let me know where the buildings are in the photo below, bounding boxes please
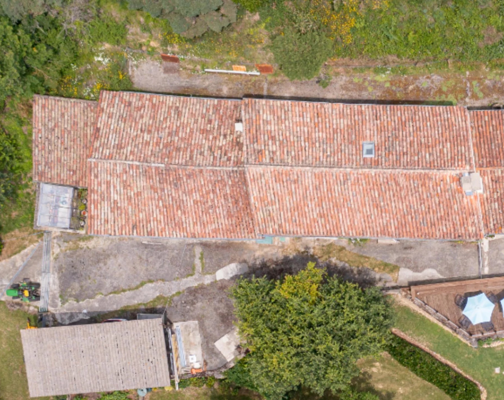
[32,88,504,245]
[20,318,176,398]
